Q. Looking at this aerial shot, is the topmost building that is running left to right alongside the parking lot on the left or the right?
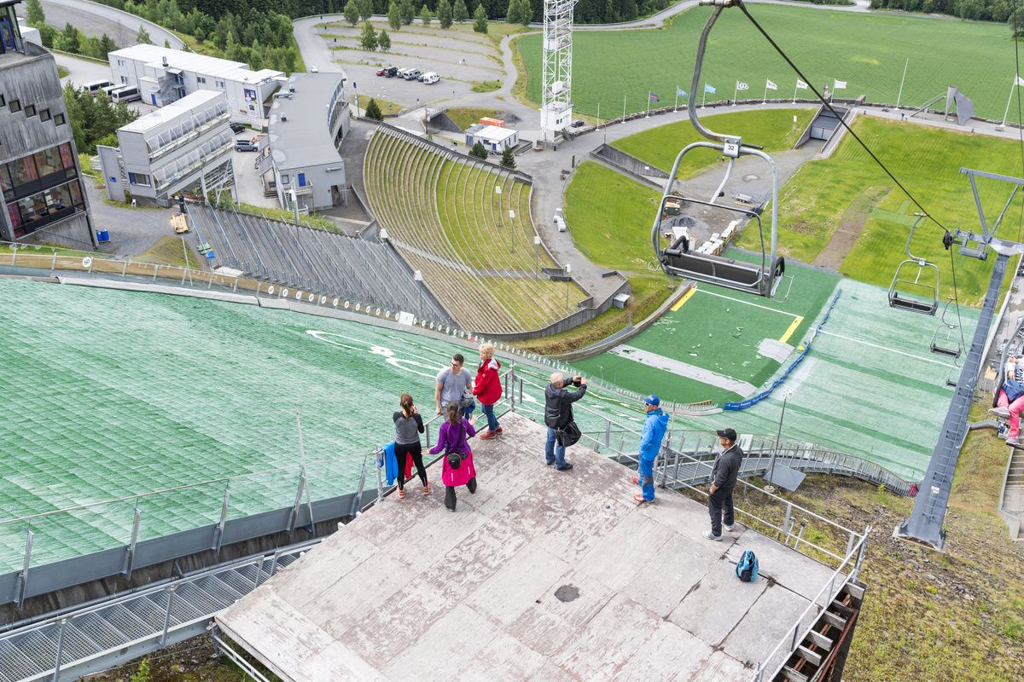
left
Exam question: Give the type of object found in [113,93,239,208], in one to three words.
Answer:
building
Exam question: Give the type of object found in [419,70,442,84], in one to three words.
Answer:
vehicle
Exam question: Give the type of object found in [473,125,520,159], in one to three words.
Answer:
building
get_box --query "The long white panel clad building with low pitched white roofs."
[106,40,295,125]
